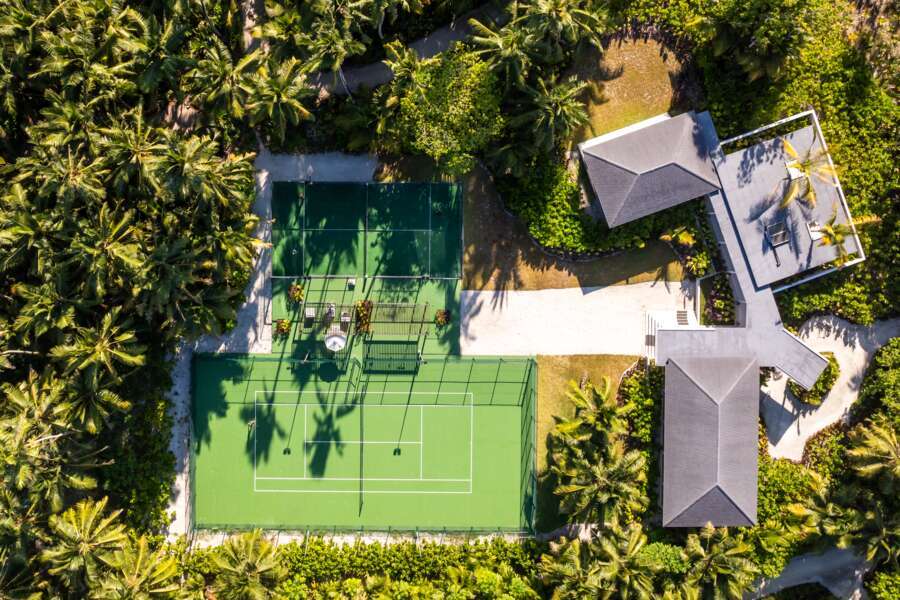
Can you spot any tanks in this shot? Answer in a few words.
No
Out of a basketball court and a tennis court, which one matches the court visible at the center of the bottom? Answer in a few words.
tennis court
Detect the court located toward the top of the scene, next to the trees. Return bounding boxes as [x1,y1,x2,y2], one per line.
[266,178,461,278]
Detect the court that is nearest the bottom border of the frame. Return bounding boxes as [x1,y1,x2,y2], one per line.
[192,353,538,531]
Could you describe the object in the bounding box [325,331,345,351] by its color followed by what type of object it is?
white umbrella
